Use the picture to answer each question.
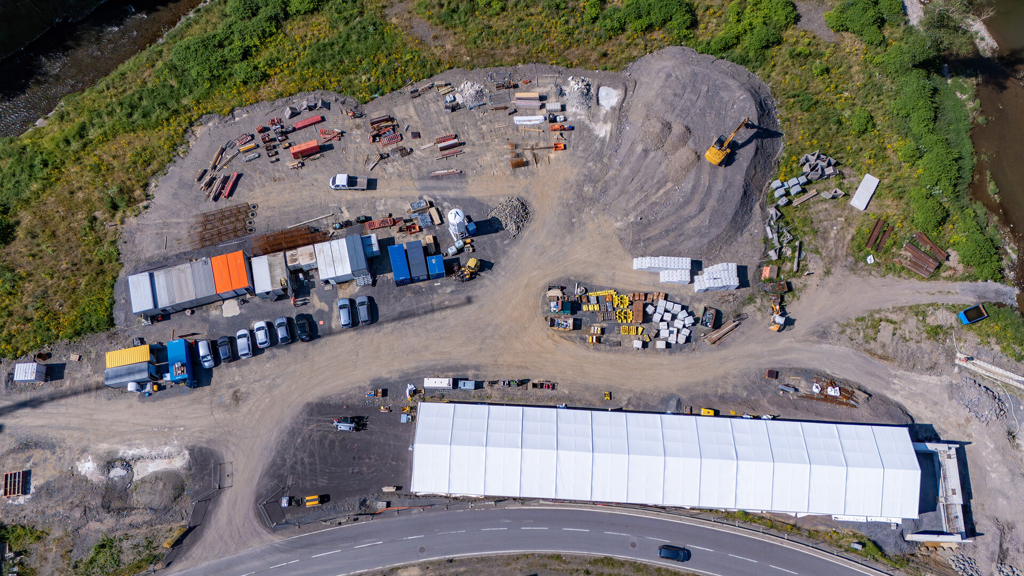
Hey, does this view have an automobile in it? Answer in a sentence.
Yes, the frame does contain an automobile.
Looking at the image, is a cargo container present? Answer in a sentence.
Yes, looking at the shot, I can spot a cargo container.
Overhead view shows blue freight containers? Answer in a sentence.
Yes, the image includes a blue freight container.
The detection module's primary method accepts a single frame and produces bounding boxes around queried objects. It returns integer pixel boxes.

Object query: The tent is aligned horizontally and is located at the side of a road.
[411,402,922,519]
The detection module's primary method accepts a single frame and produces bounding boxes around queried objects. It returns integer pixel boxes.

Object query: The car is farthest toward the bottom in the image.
[657,545,689,563]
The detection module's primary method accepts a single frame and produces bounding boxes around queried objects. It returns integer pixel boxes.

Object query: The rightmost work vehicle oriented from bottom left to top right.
[700,116,750,172]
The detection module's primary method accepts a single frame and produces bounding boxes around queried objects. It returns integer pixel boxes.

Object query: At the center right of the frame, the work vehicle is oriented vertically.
[767,299,784,333]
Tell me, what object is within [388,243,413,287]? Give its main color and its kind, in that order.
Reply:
blue shipping container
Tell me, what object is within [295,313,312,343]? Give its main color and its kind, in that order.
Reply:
black car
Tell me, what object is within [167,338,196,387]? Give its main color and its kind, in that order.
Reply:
blue shipping container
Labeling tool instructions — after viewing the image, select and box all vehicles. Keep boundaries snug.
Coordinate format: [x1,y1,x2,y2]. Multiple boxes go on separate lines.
[700,116,750,172]
[275,317,292,345]
[196,340,216,369]
[236,330,254,359]
[337,298,353,329]
[254,321,272,349]
[330,174,369,190]
[217,336,235,363]
[767,299,784,333]
[128,381,156,394]
[306,494,321,505]
[657,545,689,563]
[333,416,367,432]
[452,255,485,286]
[295,313,312,343]
[465,245,473,254]
[356,296,372,326]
